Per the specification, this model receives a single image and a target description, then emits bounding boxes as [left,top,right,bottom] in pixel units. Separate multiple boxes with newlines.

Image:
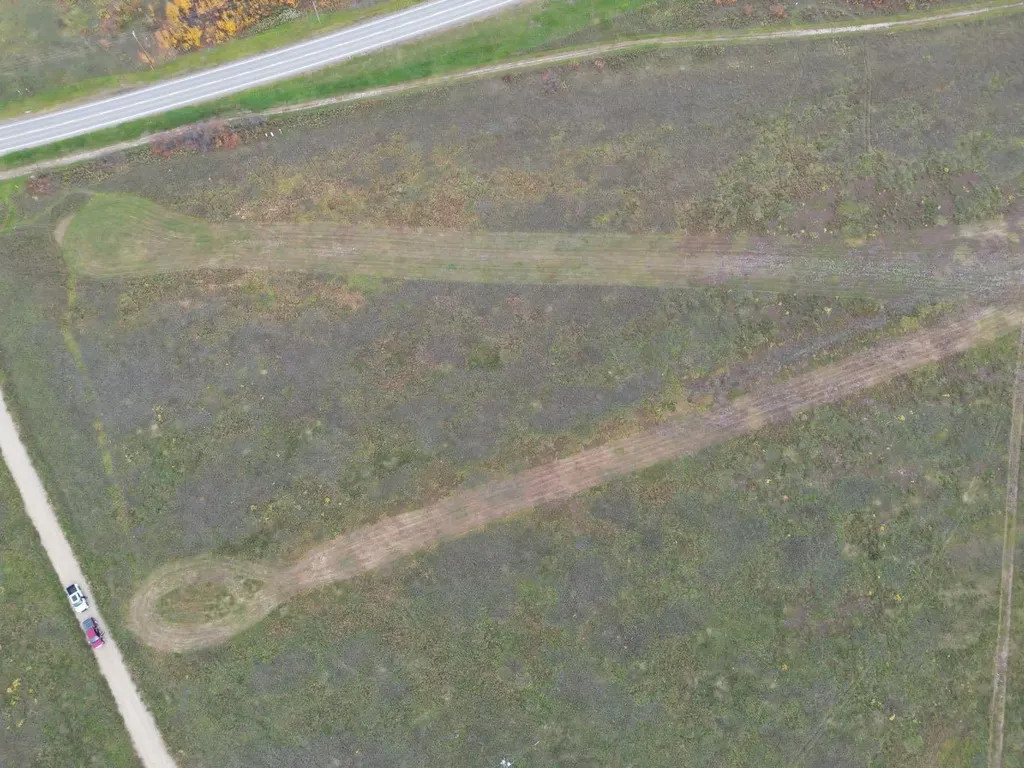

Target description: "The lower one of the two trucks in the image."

[81,616,107,649]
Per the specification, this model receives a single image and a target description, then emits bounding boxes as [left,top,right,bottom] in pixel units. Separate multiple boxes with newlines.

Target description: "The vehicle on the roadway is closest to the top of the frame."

[66,583,90,614]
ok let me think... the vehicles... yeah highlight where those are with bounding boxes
[66,583,90,614]
[81,616,107,649]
